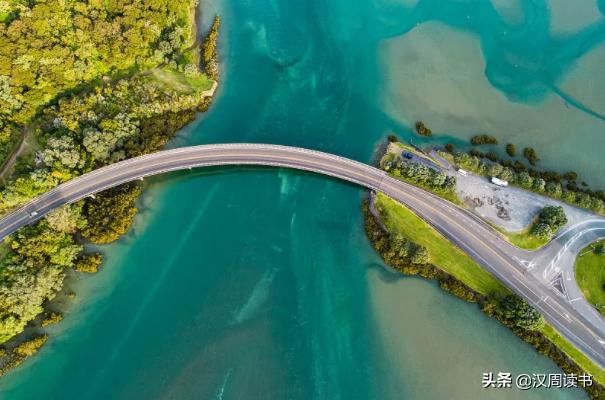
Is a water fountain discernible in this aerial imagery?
No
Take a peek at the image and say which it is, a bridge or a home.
bridge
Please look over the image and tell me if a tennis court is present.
No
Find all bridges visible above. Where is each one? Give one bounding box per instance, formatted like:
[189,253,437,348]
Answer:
[43,142,385,212]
